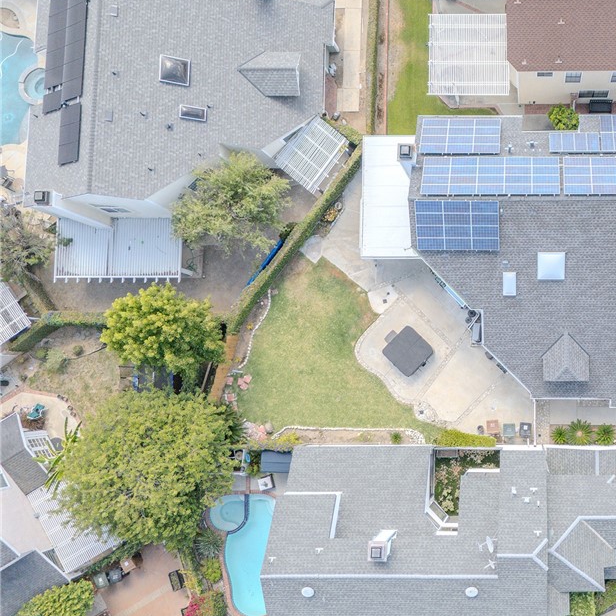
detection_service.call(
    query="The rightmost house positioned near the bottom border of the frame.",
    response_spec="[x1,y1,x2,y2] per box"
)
[260,444,616,616]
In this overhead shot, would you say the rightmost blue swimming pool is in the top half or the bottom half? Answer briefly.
bottom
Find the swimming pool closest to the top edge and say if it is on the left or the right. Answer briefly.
left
